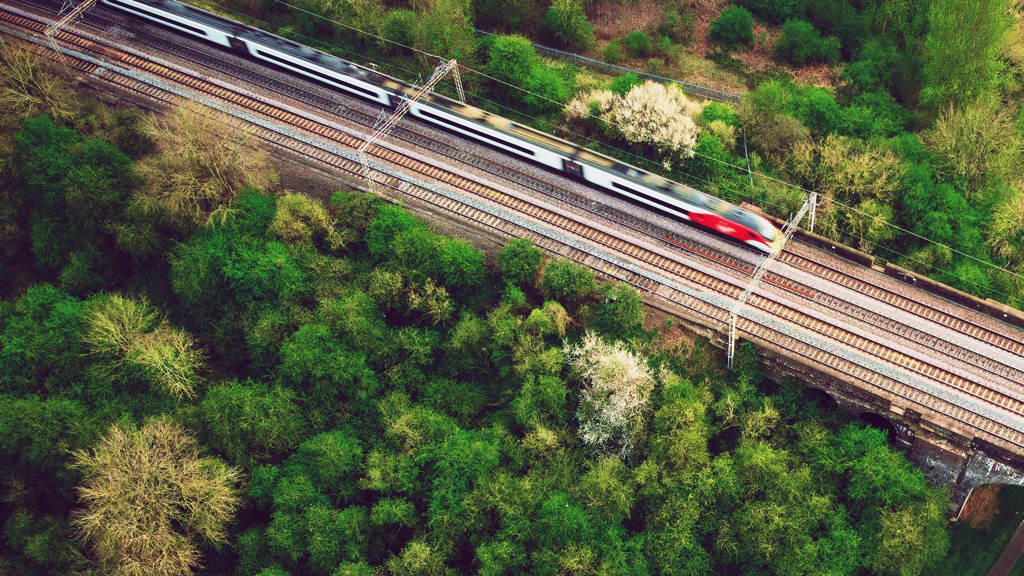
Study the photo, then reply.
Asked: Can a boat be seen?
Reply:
No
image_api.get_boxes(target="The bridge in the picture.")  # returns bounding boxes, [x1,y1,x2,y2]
[638,199,1024,523]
